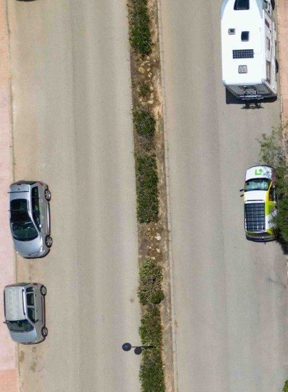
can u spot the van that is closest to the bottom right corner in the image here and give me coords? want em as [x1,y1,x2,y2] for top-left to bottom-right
[241,167,280,242]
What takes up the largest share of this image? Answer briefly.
paved ground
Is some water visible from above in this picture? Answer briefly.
No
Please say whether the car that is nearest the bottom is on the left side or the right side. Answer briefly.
left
